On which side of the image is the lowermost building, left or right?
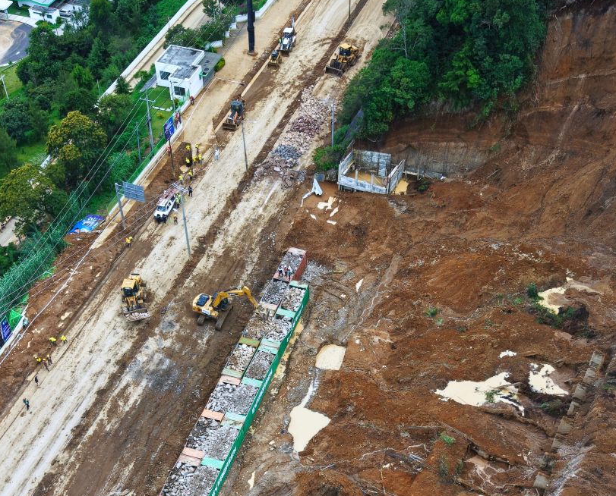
left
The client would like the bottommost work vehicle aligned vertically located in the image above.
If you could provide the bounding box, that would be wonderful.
[119,272,147,323]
